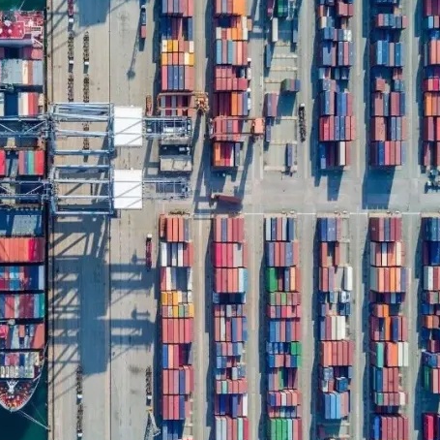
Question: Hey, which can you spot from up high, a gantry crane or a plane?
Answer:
gantry crane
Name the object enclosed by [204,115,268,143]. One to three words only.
crane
